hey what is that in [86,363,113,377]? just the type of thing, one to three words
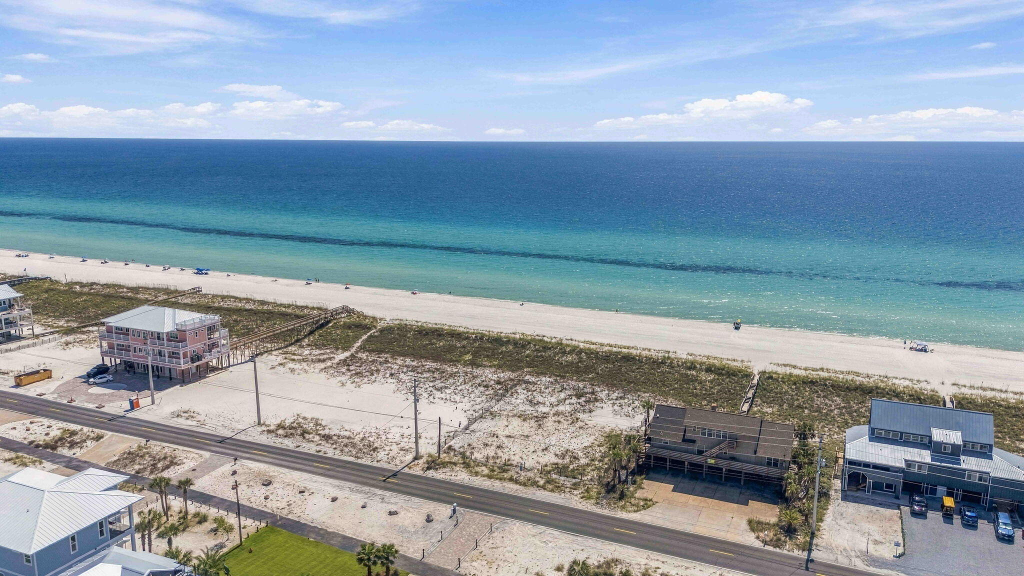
car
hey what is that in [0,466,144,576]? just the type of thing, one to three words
house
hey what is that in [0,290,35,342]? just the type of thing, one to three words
house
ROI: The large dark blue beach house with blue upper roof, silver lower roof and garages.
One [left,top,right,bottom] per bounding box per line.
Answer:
[841,397,1024,510]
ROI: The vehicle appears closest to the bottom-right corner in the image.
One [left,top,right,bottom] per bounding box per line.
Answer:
[984,510,1016,541]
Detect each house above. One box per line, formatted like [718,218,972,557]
[98,305,230,383]
[635,401,796,491]
[0,466,144,576]
[841,397,1024,510]
[0,290,35,342]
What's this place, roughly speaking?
beach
